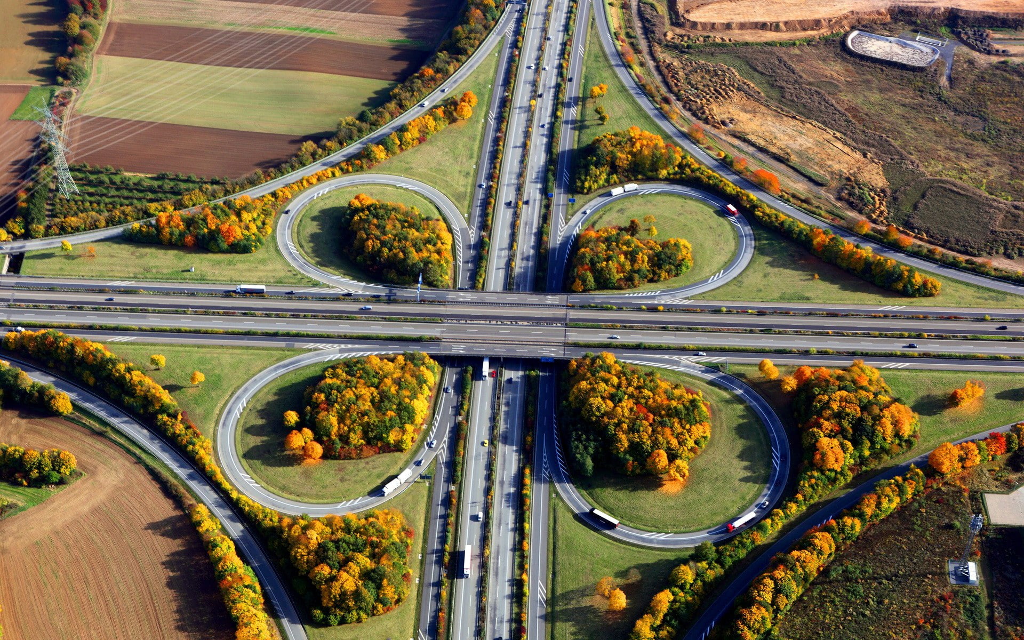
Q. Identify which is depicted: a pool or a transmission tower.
transmission tower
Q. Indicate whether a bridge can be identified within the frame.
Yes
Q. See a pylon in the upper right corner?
No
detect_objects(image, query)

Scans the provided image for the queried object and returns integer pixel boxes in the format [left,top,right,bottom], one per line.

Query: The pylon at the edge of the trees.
[36,98,81,196]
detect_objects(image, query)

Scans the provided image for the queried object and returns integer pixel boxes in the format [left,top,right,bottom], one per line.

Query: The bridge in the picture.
[437,287,571,364]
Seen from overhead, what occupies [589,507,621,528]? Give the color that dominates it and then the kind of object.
white truck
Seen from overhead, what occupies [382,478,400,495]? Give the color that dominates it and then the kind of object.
white vehicle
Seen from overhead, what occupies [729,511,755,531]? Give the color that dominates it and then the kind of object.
white vehicle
